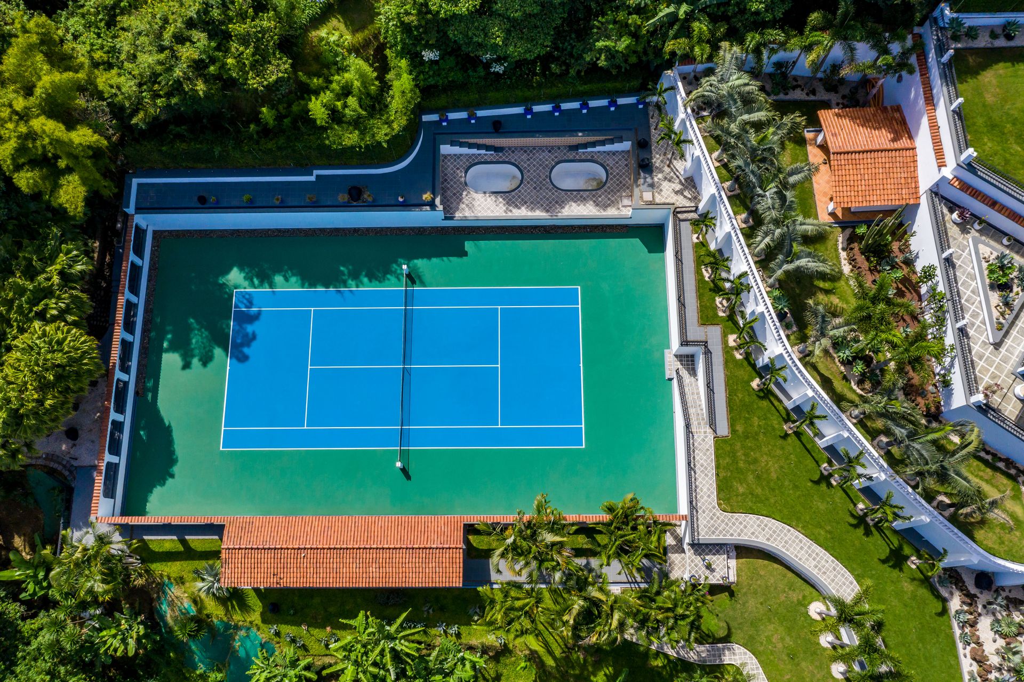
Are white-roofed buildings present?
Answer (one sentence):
No, I find no white-roofed building anywhere in the image.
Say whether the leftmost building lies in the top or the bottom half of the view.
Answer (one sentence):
The leftmost building is in the bottom half of the image.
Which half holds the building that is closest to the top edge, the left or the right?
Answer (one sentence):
It is on the right.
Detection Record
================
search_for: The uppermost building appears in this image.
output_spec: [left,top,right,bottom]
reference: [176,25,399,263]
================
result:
[803,104,923,223]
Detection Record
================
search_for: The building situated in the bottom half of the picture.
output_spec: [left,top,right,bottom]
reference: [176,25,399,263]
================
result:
[216,515,466,589]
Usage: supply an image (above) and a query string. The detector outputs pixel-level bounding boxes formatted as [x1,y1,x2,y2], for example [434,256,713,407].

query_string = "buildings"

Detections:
[803,104,923,223]
[216,515,466,589]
